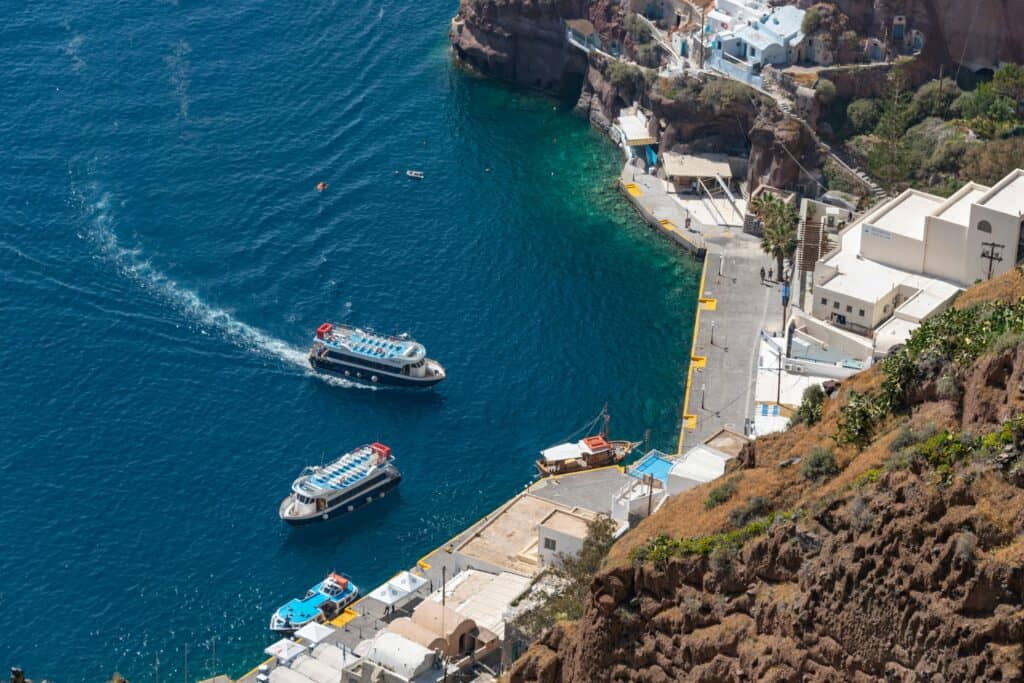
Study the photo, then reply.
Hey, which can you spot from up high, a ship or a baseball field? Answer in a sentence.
The image shows a ship.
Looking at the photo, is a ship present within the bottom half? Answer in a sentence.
Yes, you'll find a ship within the bottom half.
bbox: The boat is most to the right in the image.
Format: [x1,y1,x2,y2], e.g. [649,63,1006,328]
[538,398,639,476]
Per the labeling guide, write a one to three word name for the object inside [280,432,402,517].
ship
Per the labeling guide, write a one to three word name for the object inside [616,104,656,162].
building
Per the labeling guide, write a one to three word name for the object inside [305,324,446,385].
ship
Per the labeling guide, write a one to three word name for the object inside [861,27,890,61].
house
